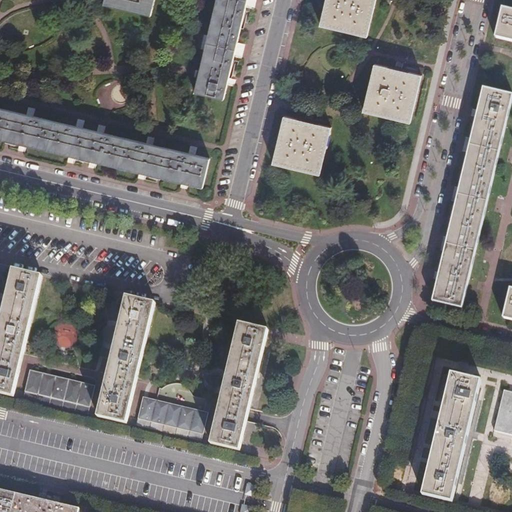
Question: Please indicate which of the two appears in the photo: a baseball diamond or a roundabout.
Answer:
roundabout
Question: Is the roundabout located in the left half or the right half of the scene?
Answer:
right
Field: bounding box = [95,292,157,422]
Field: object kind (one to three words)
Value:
building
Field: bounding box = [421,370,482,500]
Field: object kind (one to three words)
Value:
building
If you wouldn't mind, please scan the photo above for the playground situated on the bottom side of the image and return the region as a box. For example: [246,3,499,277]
[158,384,200,406]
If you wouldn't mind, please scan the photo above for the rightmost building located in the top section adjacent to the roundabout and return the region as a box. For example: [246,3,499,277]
[432,86,512,308]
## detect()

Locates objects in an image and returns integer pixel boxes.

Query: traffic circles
[298,230,412,345]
